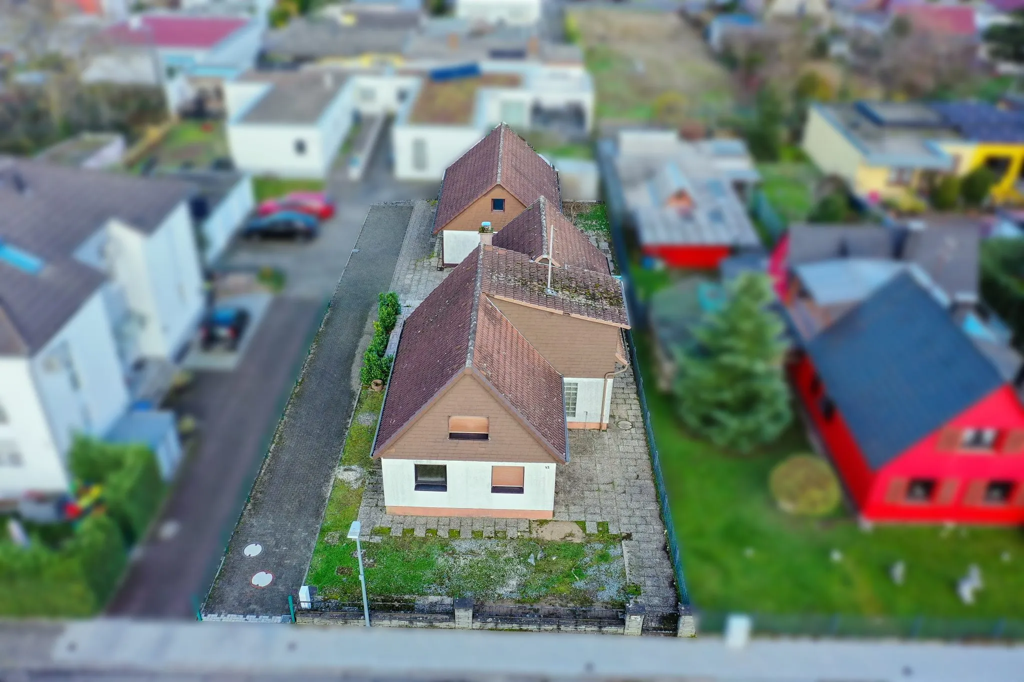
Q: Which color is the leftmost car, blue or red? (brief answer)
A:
blue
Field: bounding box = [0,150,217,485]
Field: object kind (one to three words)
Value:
house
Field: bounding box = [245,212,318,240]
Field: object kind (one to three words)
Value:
car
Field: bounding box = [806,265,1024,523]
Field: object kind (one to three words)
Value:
house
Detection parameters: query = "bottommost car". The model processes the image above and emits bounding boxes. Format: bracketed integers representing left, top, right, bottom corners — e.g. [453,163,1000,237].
[204,300,256,343]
